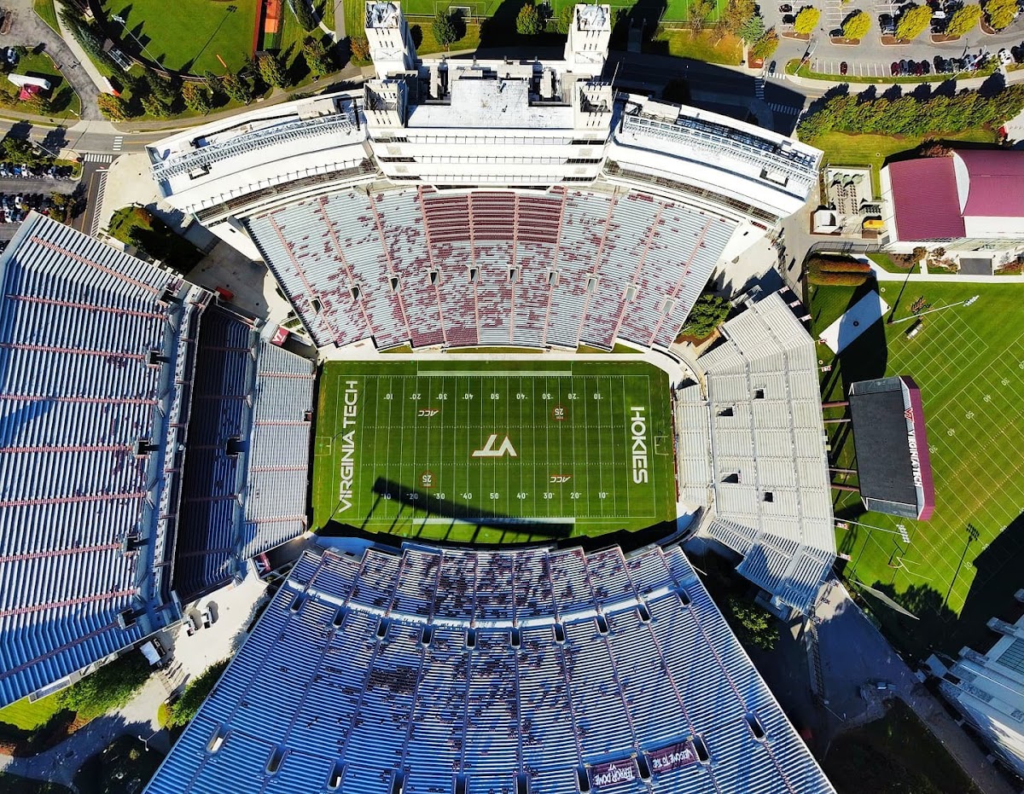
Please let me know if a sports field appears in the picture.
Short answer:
Yes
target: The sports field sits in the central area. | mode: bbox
[312,359,677,555]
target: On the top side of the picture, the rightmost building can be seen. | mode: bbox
[941,150,1024,265]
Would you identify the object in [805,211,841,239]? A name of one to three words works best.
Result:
shed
